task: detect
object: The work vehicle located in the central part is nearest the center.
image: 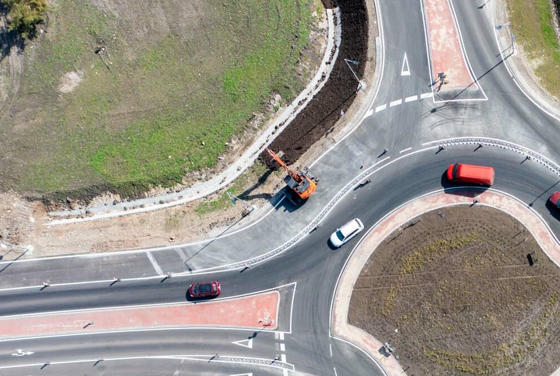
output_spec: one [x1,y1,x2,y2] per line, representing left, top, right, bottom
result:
[270,150,324,206]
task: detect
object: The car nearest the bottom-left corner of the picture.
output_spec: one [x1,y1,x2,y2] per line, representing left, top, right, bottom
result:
[188,281,223,299]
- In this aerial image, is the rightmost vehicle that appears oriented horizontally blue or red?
red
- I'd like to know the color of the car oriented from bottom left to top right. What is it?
white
